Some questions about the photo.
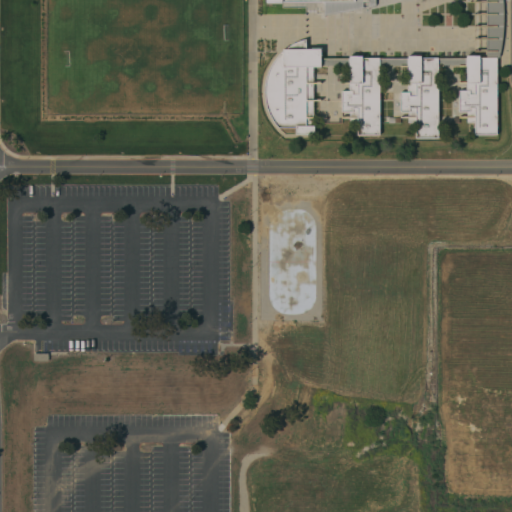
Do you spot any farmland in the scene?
Yes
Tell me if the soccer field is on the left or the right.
left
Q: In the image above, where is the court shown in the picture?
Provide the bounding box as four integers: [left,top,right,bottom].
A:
[270,209,316,314]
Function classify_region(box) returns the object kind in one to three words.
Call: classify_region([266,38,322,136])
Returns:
building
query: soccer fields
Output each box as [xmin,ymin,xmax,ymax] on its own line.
[48,0,243,113]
